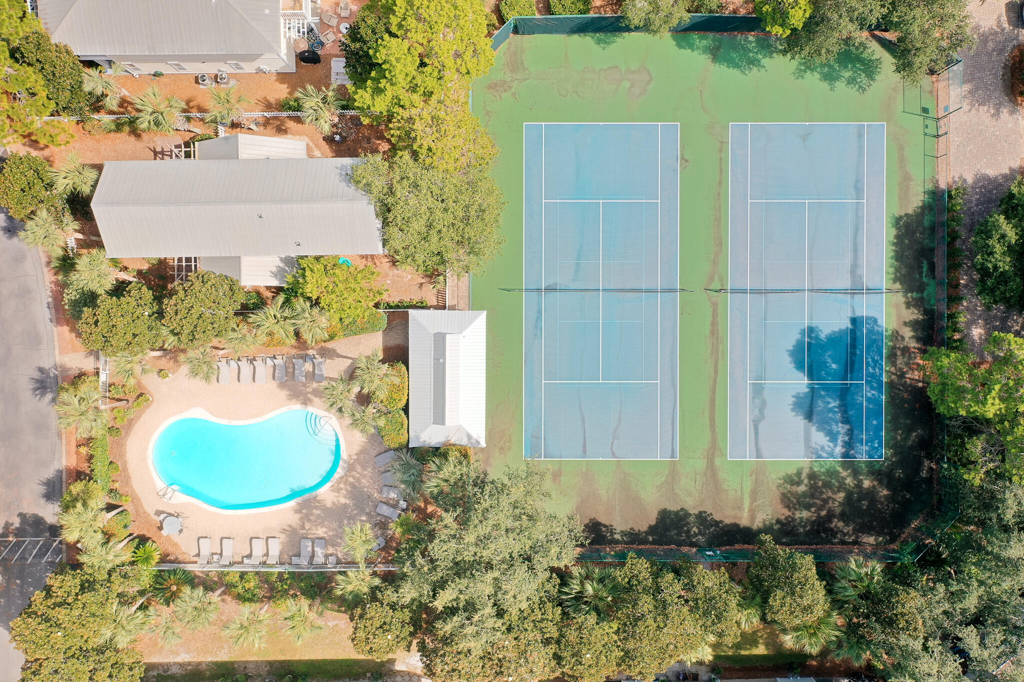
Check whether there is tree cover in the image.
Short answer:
Yes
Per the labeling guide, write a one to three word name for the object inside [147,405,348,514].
swimming pool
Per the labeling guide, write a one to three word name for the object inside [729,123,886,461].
tennis court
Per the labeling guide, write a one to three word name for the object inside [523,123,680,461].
tennis court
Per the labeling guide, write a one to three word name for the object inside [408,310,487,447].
building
